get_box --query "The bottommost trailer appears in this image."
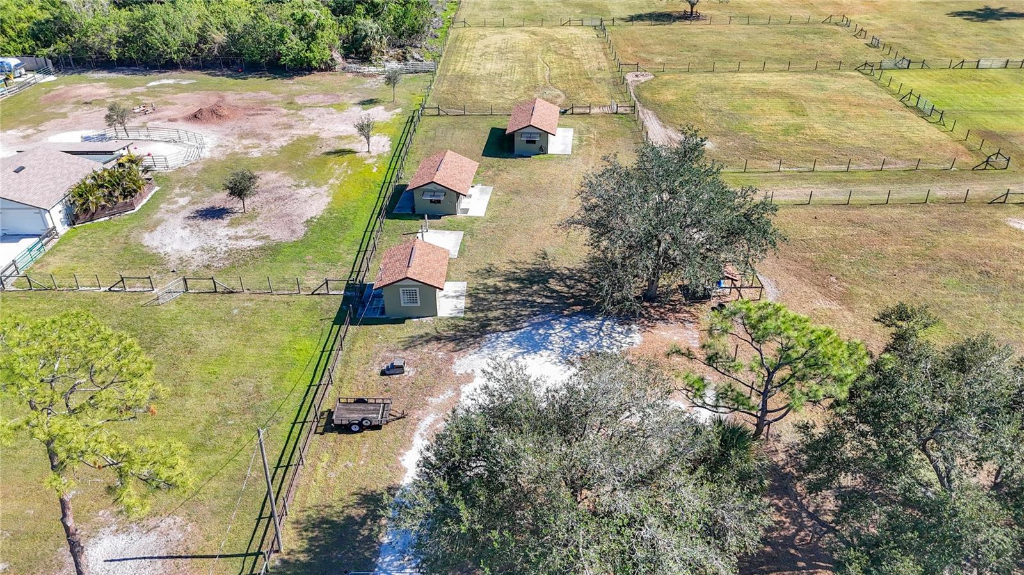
[330,396,415,435]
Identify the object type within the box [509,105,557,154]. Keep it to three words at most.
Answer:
house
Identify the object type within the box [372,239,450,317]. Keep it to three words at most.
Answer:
house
